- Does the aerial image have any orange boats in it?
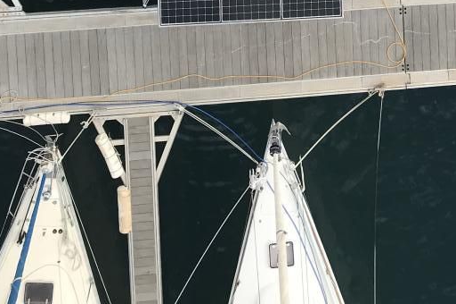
No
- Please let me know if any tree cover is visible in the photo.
No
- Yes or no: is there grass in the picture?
No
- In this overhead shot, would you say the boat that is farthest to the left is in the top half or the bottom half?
bottom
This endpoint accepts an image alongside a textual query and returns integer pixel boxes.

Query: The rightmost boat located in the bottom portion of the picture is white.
[224,116,348,304]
